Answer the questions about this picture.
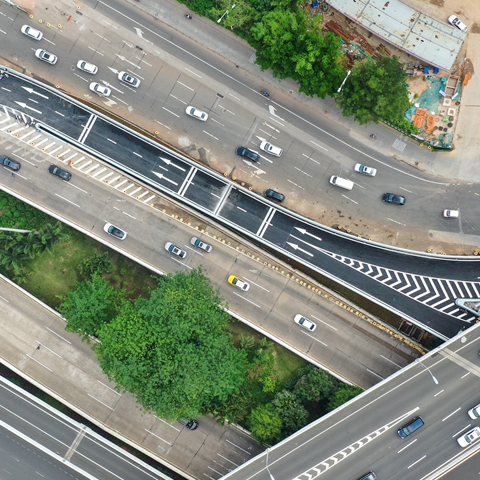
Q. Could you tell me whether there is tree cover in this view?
Yes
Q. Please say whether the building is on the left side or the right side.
right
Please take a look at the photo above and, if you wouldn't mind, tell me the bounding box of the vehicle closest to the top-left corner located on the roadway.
[22,24,44,42]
